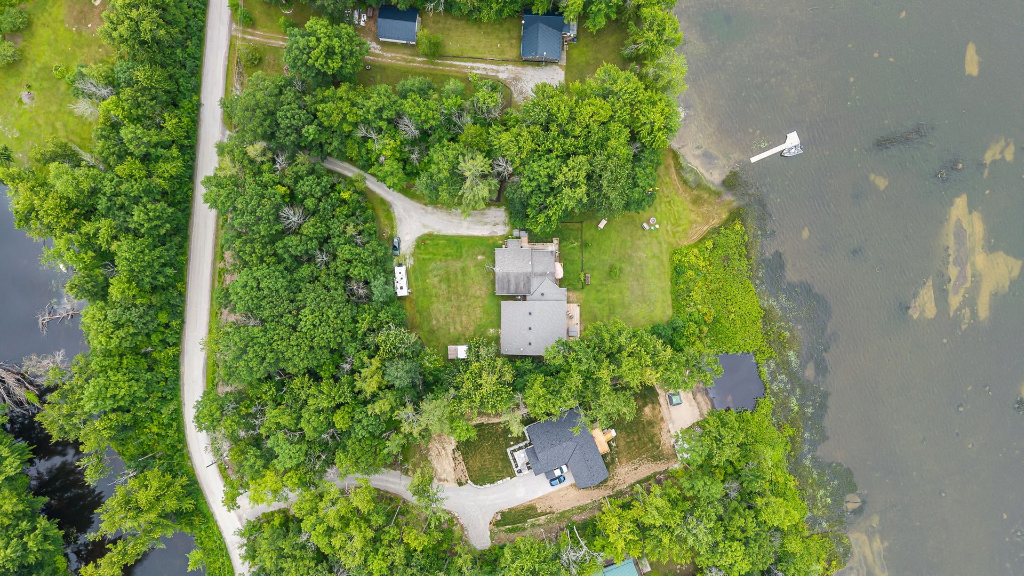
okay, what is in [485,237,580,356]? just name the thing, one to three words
house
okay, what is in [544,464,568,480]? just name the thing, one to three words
vehicle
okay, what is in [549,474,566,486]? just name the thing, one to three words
vehicle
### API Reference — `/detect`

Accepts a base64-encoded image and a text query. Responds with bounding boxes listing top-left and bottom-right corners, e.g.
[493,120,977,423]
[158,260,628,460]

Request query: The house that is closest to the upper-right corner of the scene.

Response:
[522,7,578,61]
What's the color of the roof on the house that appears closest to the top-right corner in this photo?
blue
